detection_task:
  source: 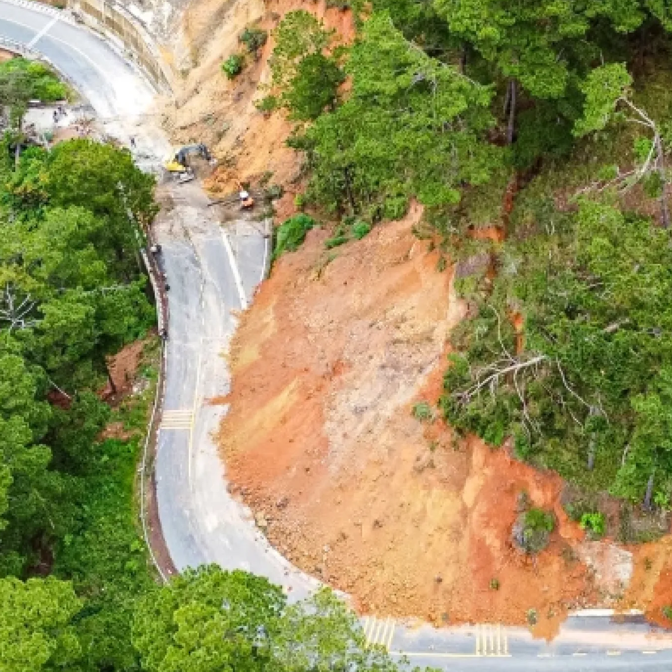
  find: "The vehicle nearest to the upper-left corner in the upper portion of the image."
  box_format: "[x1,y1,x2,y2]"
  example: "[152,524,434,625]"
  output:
[163,149,217,182]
